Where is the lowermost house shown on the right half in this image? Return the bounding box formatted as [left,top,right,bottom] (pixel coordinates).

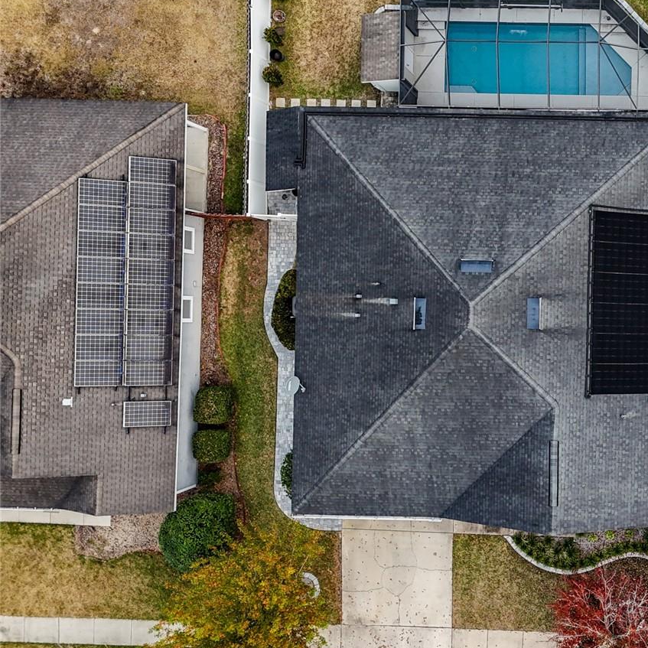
[264,108,648,533]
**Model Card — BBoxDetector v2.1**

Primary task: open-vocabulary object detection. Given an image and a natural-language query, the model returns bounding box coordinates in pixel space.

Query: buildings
[361,11,414,90]
[0,99,210,514]
[264,108,648,533]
